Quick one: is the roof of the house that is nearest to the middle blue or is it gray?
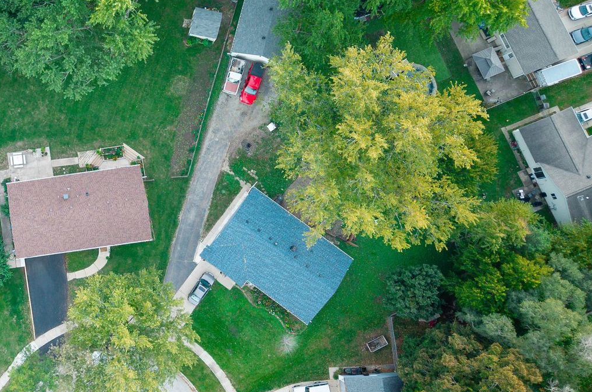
blue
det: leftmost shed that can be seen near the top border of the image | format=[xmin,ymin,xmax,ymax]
[188,7,222,40]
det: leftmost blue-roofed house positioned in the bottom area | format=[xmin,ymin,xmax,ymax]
[198,187,353,324]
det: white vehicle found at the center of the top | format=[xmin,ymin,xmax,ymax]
[226,53,246,94]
